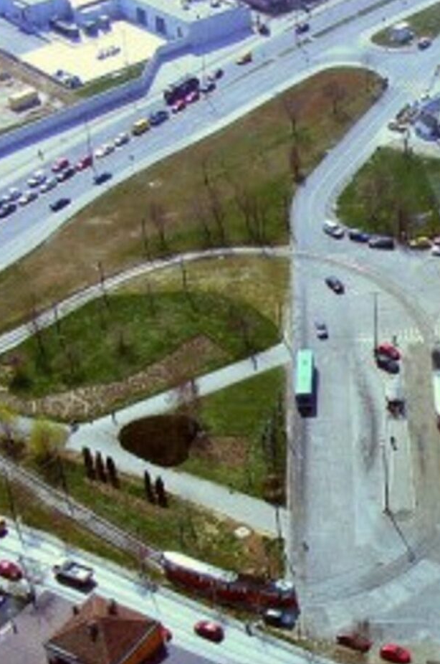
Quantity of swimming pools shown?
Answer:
zero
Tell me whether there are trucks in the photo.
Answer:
Yes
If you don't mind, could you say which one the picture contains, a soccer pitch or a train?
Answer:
train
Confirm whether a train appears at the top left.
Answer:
No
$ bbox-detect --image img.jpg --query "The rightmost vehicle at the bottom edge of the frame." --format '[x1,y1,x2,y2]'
[375,641,414,664]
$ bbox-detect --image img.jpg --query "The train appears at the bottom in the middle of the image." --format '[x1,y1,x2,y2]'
[154,548,304,621]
